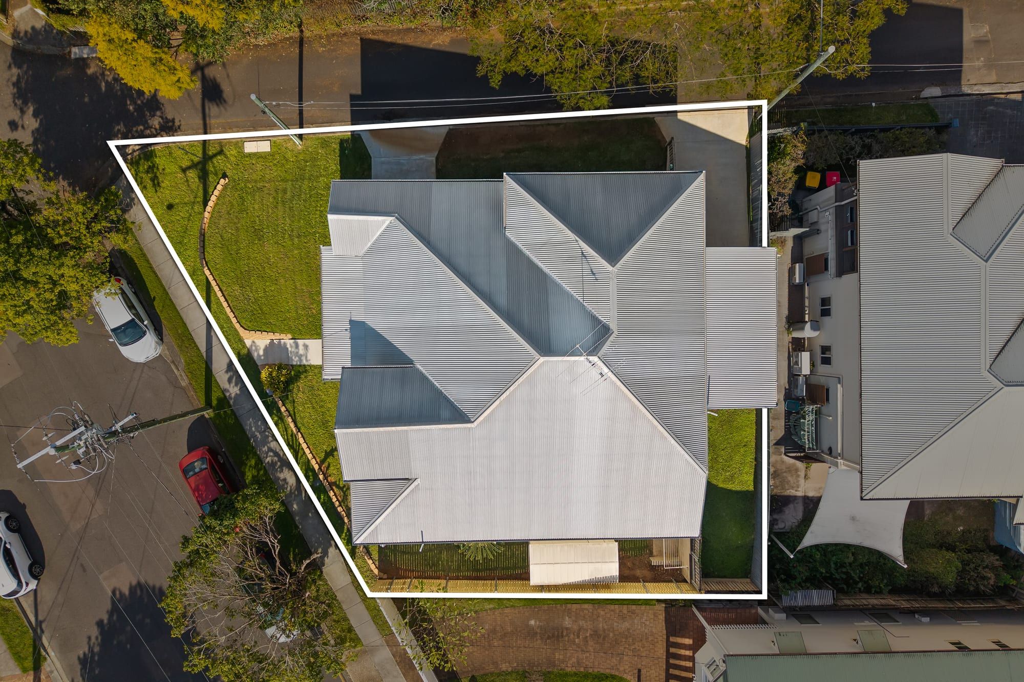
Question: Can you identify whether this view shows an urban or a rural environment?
urban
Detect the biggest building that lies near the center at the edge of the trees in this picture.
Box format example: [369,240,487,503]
[319,169,780,553]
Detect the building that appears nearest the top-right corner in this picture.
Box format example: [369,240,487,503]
[797,152,1024,502]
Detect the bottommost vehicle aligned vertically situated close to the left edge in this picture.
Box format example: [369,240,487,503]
[0,513,42,604]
